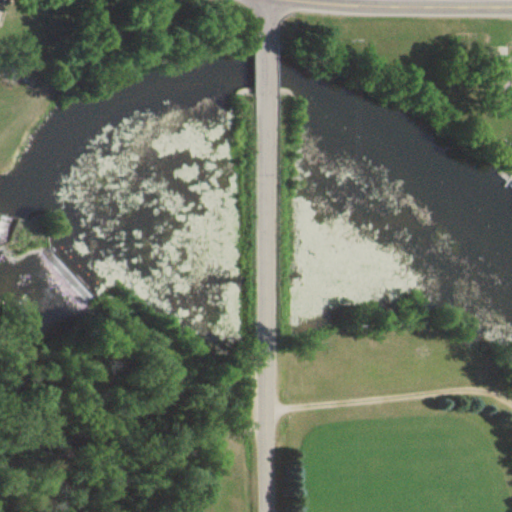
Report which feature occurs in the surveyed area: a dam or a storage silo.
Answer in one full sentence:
Of the two, only a dam appears.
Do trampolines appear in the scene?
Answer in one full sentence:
No, there isn't any trampoline down there.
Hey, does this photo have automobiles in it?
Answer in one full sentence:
No, there appears to be no automobile in this shot.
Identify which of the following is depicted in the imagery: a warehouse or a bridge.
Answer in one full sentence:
Of the two, only a bridge appears.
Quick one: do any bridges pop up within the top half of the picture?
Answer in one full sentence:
Yes, within the top half of the picture there is a bridge.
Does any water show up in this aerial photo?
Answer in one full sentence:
Yes, there's water in this view.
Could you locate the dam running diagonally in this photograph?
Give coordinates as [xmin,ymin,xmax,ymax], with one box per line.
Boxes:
[44,240,96,303]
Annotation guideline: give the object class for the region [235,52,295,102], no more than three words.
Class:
bridge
